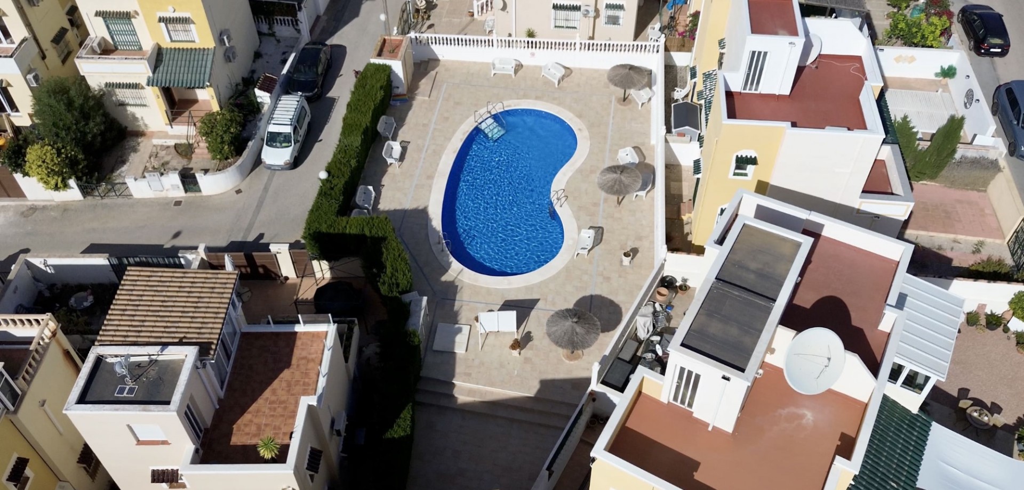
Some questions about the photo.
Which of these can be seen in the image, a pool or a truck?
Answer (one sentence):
I can see a pool in this picture.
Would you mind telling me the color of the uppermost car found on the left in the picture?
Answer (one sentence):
The uppermost car found on the left looks black in the image.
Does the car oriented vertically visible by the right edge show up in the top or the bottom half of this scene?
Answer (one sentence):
The top half of the photo is where the car oriented vertically visible by the right edge is.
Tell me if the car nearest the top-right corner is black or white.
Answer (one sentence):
The color of the car nearest the top-right corner is black.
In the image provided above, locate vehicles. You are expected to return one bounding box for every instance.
[257,89,303,168]
[991,90,1024,161]
[953,9,1015,59]
[282,39,326,95]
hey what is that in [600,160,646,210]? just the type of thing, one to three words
umbrella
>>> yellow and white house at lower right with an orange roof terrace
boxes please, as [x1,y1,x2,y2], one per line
[586,187,970,490]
